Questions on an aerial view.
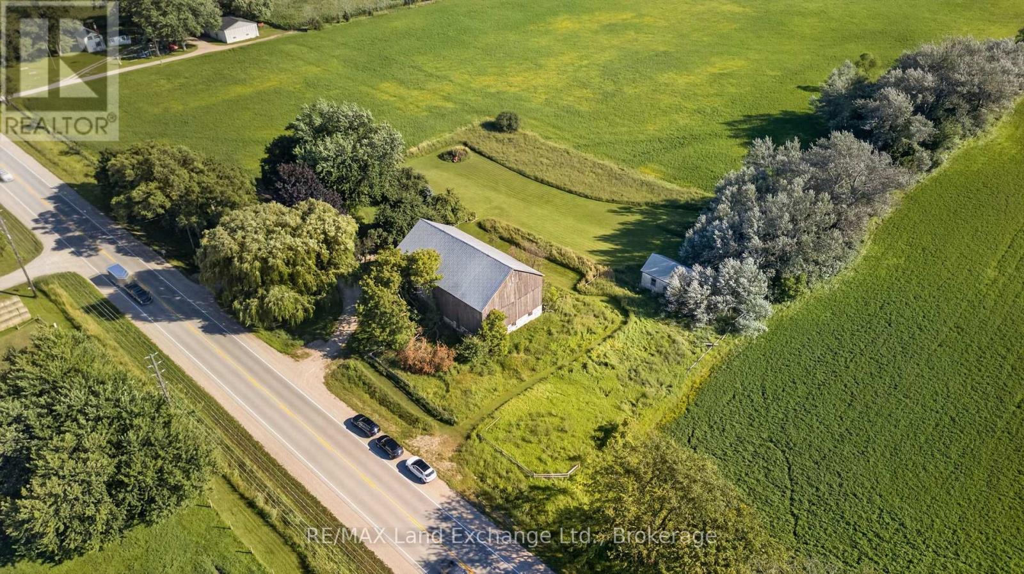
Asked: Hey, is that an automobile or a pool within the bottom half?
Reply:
automobile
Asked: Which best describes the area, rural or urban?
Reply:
rural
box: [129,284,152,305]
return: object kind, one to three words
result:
car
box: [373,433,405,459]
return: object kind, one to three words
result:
car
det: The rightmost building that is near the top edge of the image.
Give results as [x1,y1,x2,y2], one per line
[206,14,259,43]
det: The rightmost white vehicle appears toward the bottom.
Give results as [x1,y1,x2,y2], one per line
[404,456,438,485]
